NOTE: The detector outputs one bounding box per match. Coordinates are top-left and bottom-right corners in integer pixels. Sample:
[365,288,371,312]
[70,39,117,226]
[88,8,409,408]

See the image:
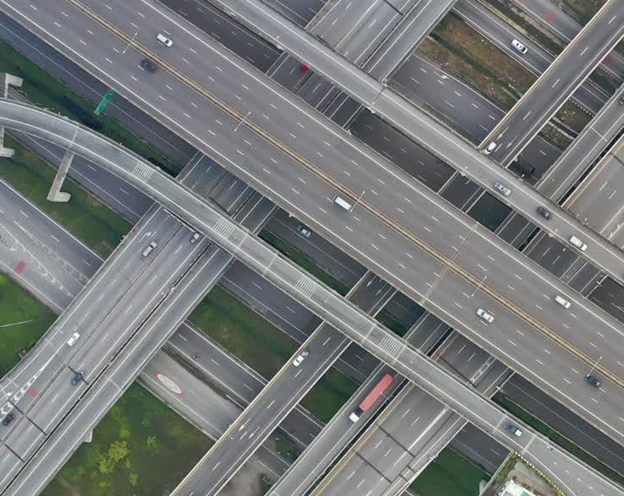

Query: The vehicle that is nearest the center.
[294,223,311,237]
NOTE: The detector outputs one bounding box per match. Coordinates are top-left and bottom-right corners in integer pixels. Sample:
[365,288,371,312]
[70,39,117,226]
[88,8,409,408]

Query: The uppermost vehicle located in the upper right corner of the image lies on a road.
[511,39,526,52]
